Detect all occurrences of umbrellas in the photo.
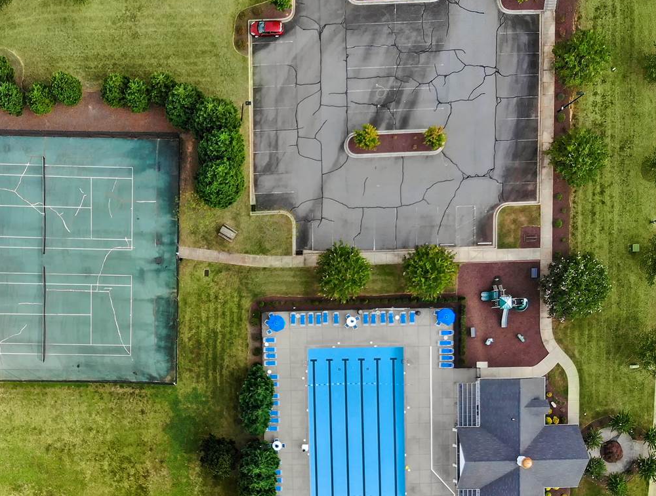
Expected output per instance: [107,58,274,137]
[437,307,455,326]
[268,315,285,332]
